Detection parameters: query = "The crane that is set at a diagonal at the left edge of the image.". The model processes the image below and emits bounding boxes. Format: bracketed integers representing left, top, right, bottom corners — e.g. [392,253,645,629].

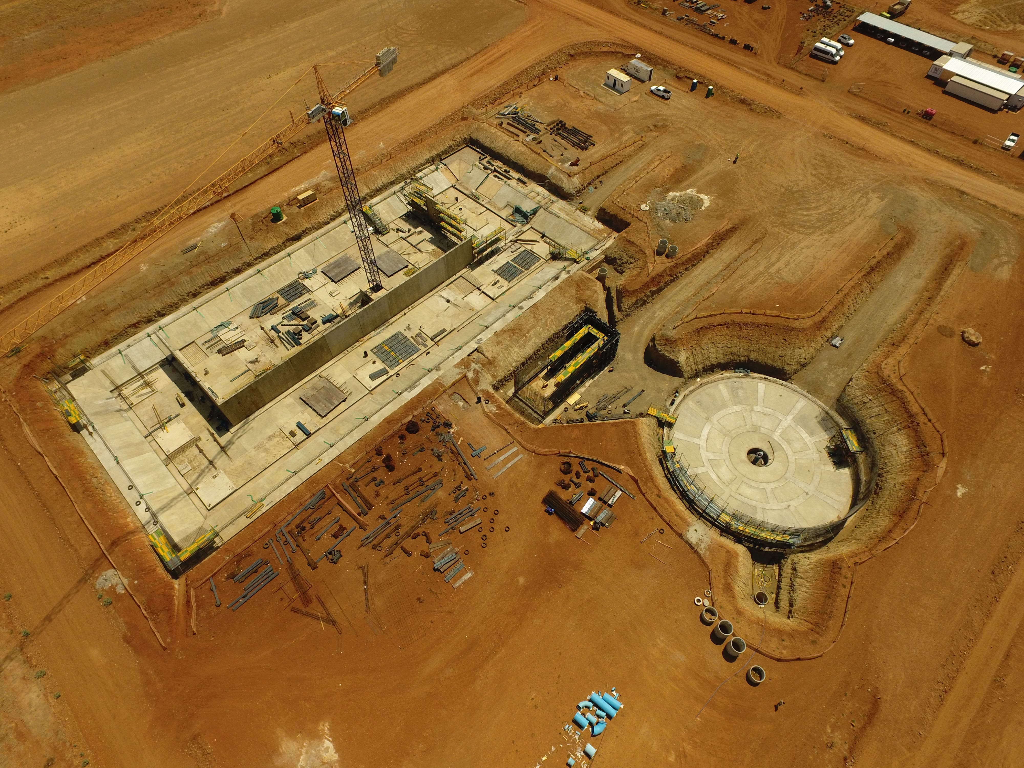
[0,54,407,367]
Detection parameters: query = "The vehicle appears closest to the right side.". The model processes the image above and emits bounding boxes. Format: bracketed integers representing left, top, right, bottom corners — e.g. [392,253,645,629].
[1002,132,1023,148]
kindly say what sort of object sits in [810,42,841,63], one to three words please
vehicle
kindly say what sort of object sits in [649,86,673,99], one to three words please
vehicle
